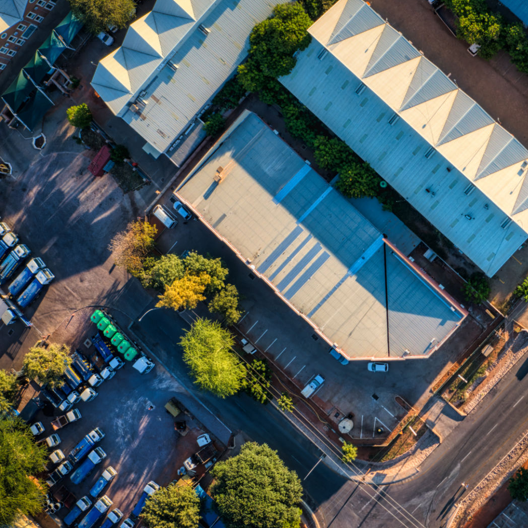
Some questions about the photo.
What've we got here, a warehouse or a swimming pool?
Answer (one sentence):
The image shows a warehouse.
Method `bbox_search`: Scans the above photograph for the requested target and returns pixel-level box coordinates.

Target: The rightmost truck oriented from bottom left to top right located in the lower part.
[299,374,325,398]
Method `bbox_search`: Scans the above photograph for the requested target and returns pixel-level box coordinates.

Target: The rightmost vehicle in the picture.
[464,38,485,61]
